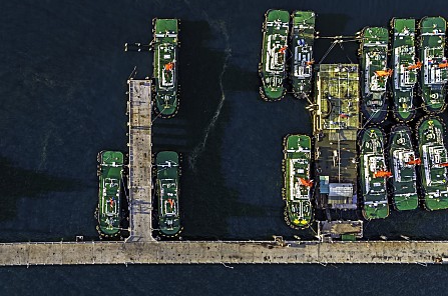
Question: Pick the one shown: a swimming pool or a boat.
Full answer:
Of the two, only a boat appears.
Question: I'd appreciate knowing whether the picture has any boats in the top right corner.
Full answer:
Yes, the scene does show a boat in the top right corner.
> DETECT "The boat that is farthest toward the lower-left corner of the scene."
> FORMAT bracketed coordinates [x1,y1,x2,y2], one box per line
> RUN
[98,152,126,237]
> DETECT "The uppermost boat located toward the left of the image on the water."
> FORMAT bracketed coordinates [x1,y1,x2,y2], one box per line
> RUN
[153,20,181,116]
